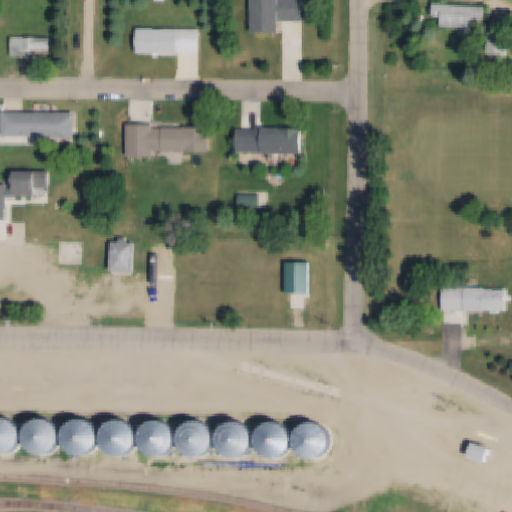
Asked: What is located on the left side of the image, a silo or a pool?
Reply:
silo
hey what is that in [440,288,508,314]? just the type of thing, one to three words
house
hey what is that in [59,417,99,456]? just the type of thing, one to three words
silo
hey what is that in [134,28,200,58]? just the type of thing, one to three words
house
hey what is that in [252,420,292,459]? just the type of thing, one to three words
silo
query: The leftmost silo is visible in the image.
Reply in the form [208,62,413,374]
[0,416,22,454]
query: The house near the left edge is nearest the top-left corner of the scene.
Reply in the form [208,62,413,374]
[8,37,49,56]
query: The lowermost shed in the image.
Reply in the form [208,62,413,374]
[466,444,491,462]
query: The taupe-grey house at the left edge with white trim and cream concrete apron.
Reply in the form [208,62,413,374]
[0,171,48,220]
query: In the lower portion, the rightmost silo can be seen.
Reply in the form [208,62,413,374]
[290,420,331,460]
